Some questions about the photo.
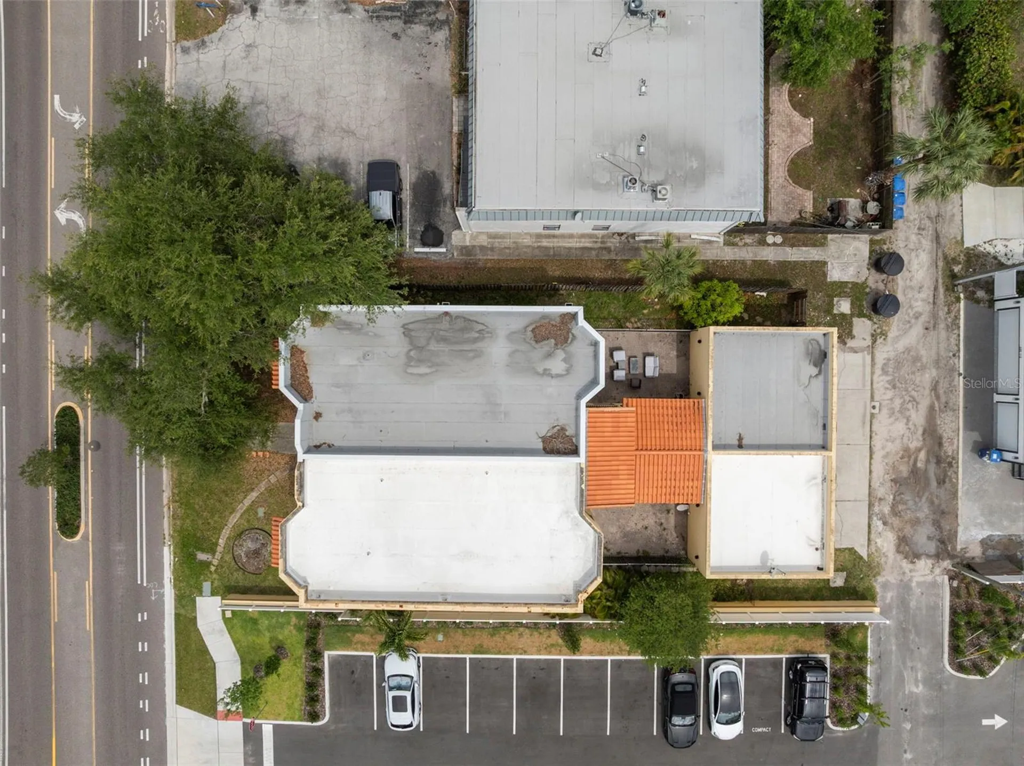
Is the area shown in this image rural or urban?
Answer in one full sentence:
The land in this view is best described as urban.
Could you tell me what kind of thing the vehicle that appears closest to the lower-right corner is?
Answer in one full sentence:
The vehicle that appears closest to the lower-right corner is an automobile.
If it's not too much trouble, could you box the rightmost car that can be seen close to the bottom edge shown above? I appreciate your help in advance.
[784,648,834,739]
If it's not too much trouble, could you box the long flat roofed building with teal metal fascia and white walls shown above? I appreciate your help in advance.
[456,0,764,233]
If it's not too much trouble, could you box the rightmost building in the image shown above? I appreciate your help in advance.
[688,327,837,579]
